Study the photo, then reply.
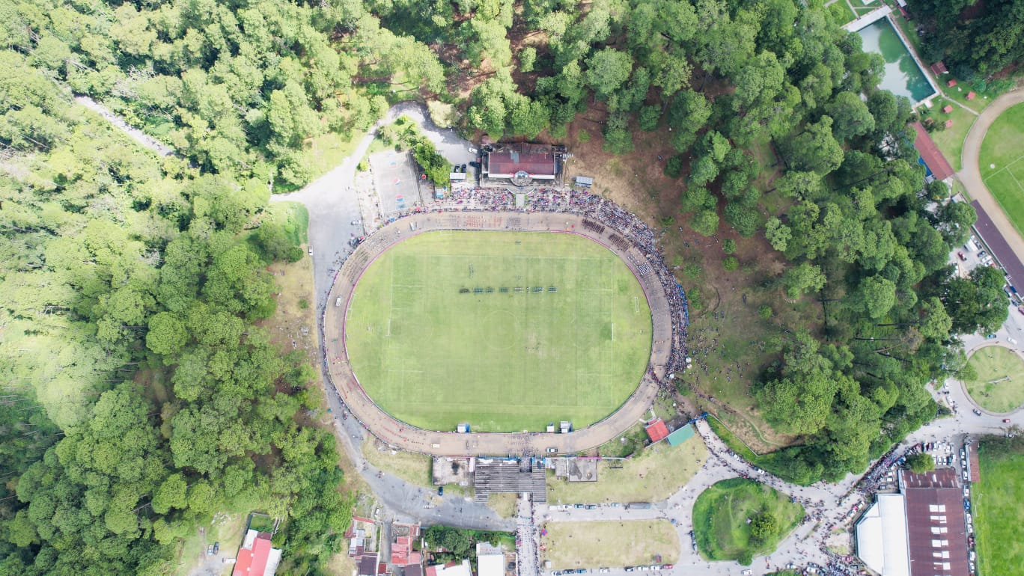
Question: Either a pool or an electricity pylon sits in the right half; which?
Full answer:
The one visible in the right half is a pool.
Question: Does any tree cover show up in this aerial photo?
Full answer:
Yes, there is tree cover in the image.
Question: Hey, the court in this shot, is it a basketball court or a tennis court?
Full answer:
The court is a basketball court.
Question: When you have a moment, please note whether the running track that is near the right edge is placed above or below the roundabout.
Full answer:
As seen from overhead, the running track that is near the right edge falls above the roundabout in the picture.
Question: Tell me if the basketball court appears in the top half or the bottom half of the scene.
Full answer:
The basketball court sits in the top half of the picture.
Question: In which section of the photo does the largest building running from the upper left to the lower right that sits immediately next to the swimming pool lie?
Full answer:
The largest building running from the upper left to the lower right that sits immediately next to the swimming pool appears toward the top right of the photo.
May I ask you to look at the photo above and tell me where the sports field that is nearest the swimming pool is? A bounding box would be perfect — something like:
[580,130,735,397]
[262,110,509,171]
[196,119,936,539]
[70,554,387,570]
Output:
[979,102,1024,253]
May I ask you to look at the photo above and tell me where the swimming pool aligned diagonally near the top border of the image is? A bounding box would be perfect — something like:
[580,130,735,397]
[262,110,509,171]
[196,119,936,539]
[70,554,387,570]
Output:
[849,5,939,107]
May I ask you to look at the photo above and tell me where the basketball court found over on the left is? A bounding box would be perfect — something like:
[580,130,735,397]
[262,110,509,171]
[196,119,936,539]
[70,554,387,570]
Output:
[370,150,423,218]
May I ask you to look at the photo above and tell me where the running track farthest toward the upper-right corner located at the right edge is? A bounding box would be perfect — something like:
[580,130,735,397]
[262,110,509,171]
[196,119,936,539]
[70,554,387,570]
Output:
[958,83,1024,281]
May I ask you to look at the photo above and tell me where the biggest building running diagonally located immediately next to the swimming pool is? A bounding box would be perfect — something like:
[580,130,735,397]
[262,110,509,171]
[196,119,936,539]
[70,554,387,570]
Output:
[899,121,954,182]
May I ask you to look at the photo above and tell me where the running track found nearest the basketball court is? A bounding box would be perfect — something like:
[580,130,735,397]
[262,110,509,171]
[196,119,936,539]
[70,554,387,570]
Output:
[323,209,672,456]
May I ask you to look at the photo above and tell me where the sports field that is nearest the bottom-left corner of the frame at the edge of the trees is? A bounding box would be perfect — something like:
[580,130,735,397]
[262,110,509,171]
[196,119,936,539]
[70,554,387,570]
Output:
[345,230,652,432]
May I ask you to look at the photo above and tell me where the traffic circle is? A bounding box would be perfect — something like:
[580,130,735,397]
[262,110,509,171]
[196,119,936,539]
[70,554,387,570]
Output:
[958,341,1024,418]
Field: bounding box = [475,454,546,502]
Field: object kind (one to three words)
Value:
building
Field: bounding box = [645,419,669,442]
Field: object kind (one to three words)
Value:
house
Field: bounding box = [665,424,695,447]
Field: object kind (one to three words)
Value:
building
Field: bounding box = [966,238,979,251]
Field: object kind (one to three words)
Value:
vehicle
